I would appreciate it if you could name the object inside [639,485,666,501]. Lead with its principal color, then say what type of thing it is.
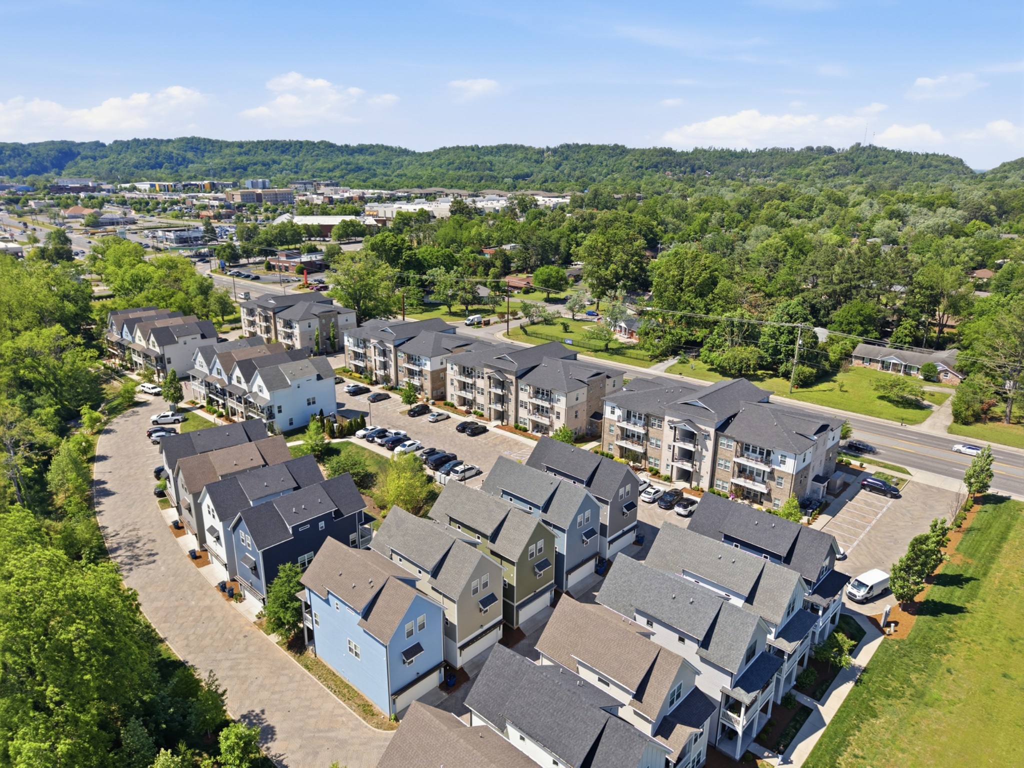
white car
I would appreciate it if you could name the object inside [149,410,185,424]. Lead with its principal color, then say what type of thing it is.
white vehicle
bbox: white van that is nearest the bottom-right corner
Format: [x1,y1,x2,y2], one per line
[851,563,892,603]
